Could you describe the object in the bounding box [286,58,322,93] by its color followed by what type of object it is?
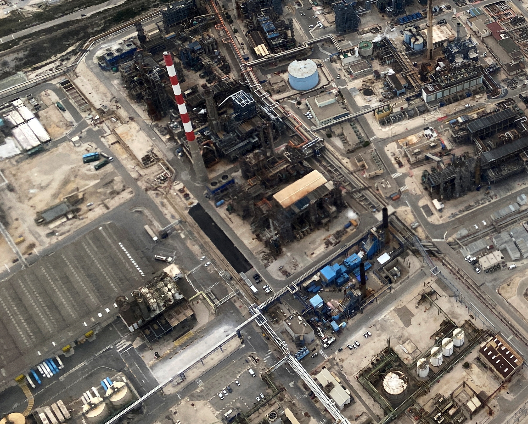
white storage tank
